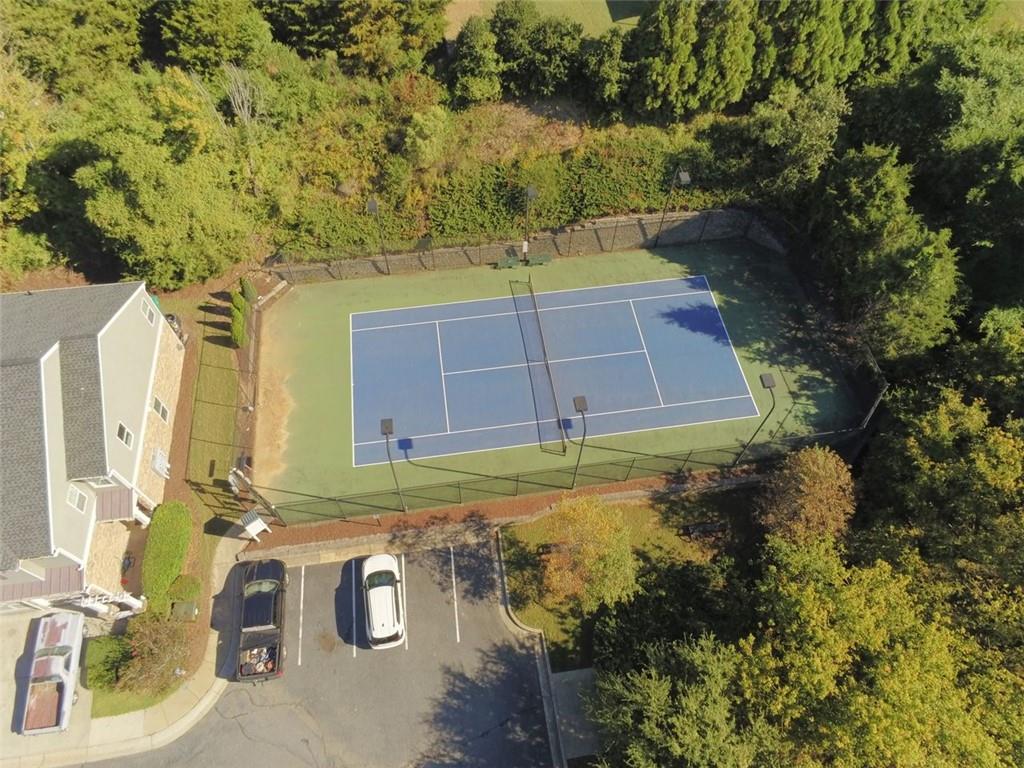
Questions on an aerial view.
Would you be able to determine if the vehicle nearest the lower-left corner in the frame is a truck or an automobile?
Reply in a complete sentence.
What you see as the vehicle nearest the lower-left corner is a truck.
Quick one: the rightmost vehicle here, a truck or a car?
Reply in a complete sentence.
I'd say the rightmost vehicle is a car.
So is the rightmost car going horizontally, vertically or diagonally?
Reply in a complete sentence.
In this picture, the rightmost car is oriented vertically.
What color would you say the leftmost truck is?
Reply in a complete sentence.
The leftmost truck is white.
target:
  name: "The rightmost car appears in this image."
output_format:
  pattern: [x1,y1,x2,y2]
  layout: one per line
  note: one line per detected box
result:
[359,552,407,648]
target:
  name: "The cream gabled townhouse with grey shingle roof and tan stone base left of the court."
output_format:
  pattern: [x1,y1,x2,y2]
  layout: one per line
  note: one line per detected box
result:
[0,284,185,626]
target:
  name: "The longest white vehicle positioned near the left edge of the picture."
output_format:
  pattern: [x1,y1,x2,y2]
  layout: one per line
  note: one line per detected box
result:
[19,609,92,738]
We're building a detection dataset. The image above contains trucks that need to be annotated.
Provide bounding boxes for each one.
[19,609,92,738]
[235,557,288,681]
